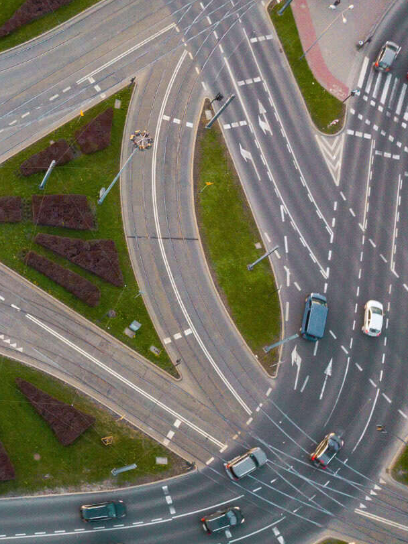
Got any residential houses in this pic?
No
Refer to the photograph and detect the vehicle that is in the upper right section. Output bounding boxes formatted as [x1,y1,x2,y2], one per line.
[374,40,400,73]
